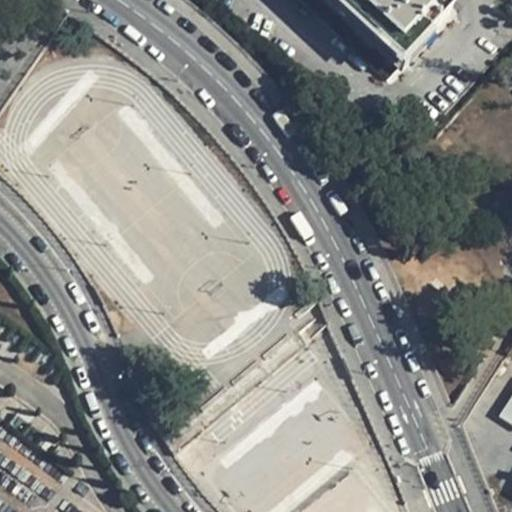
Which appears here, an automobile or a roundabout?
automobile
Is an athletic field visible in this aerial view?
Yes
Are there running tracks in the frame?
Yes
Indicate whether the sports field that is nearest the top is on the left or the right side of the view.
left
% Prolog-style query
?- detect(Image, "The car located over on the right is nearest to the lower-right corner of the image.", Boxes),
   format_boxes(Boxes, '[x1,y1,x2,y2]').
[424,470,438,488]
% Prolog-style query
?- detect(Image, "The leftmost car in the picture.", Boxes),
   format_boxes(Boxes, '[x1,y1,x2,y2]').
[5,251,25,273]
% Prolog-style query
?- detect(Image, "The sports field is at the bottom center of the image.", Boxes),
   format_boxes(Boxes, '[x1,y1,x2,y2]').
[194,348,402,512]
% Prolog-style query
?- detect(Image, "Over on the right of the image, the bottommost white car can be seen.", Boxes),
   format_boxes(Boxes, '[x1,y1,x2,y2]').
[395,436,410,456]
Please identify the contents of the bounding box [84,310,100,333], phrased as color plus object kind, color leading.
white car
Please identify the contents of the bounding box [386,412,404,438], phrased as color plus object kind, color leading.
white vehicle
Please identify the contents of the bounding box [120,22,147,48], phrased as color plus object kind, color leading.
white vehicle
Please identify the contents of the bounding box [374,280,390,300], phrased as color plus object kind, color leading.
white car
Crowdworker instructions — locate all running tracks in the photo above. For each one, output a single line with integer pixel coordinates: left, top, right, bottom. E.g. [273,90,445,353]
[2,63,291,368]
